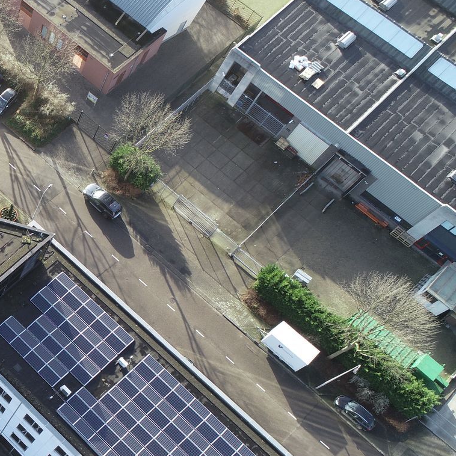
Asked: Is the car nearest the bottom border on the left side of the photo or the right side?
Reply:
right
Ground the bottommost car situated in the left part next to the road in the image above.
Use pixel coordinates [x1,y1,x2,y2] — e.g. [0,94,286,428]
[84,183,124,218]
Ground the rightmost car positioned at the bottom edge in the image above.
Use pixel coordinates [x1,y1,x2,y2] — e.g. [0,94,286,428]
[331,392,382,433]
